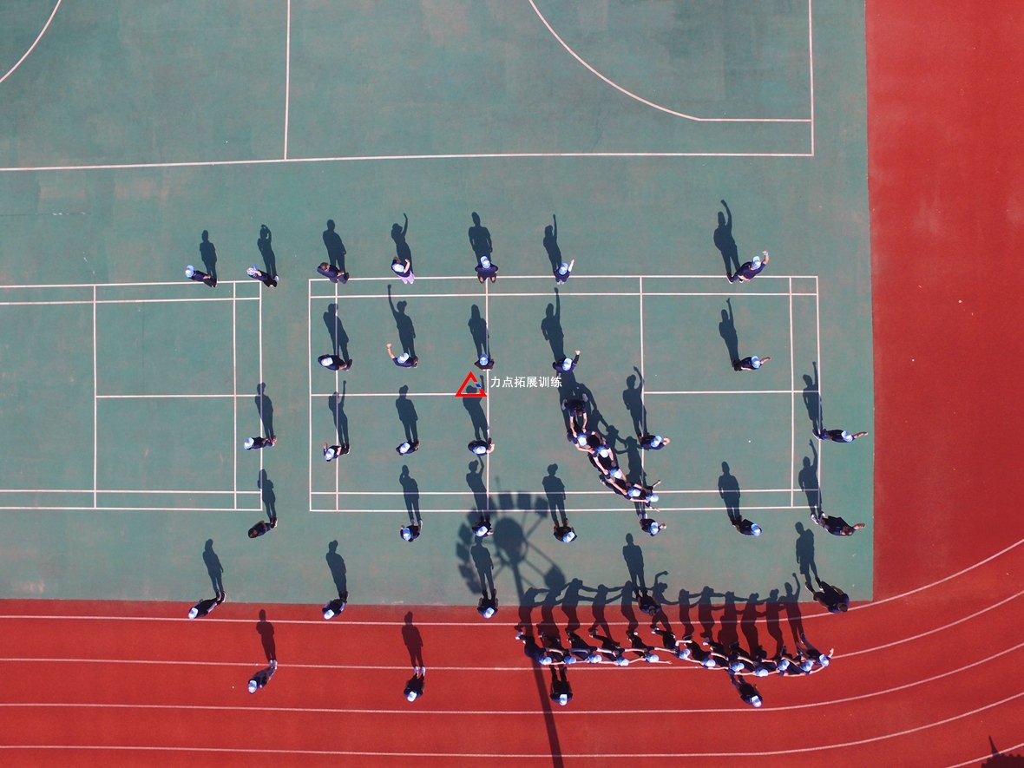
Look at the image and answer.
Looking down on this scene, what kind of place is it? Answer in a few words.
sports ground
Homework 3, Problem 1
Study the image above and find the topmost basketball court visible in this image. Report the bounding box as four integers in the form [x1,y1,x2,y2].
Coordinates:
[0,0,814,170]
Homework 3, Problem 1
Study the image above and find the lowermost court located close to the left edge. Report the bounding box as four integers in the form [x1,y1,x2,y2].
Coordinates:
[0,280,262,511]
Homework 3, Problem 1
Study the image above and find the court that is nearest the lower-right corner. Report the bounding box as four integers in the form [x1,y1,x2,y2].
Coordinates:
[308,276,821,512]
